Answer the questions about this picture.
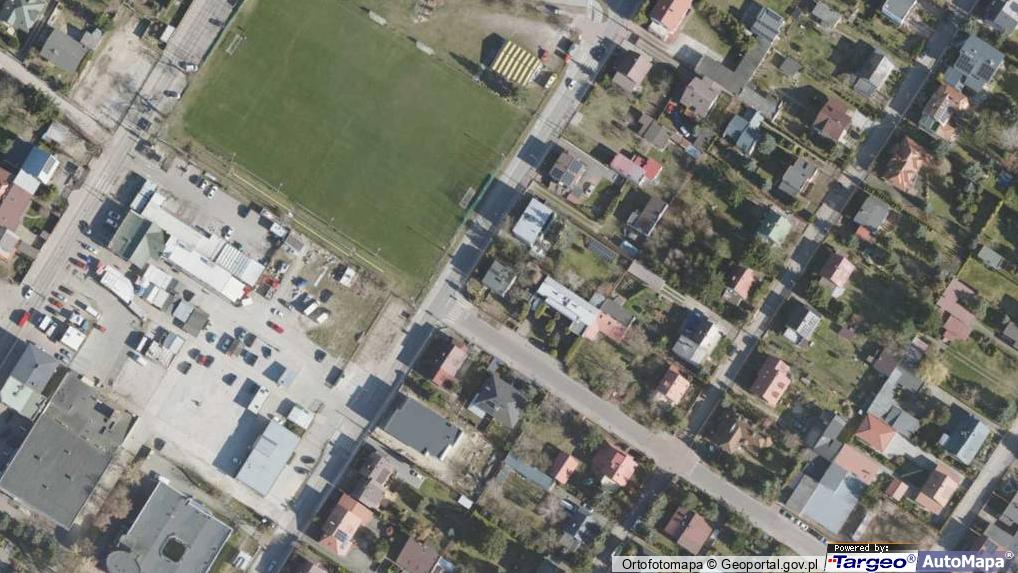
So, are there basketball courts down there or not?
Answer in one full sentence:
No, the picture doesn't show any basketball court.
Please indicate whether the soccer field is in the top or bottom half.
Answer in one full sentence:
You can find the soccer field in the top half.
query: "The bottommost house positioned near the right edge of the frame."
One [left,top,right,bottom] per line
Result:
[966,526,1005,565]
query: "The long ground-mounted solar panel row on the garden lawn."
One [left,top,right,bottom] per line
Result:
[586,238,616,262]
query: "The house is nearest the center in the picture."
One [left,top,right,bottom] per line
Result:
[480,260,525,297]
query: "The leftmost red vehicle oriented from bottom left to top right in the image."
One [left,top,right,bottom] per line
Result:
[18,311,31,326]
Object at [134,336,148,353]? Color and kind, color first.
white vehicle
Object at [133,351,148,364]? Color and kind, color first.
white vehicle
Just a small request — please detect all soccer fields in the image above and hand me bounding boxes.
[182,0,528,293]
